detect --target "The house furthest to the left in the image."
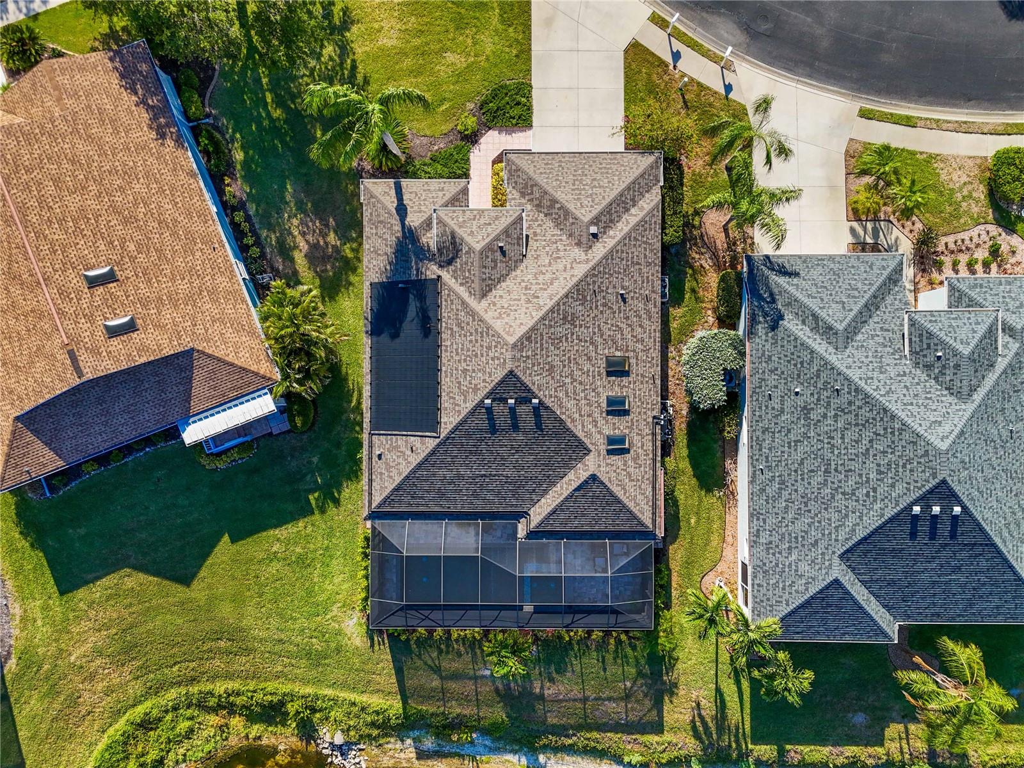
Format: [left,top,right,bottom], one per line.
[0,43,281,491]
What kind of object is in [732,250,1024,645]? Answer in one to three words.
house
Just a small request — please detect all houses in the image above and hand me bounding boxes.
[360,150,665,538]
[732,250,1024,645]
[0,43,281,491]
